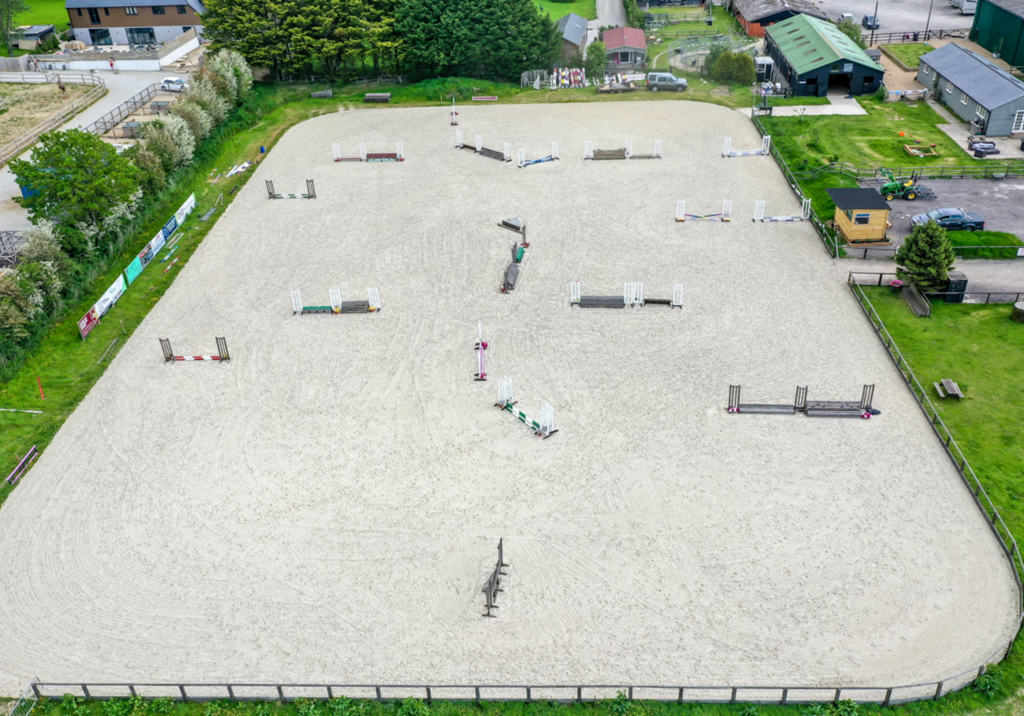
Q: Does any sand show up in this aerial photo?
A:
Yes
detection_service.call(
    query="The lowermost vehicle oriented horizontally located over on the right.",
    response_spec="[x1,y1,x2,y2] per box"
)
[906,198,985,231]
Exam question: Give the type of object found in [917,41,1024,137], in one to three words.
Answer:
house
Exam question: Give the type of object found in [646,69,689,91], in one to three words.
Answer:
car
